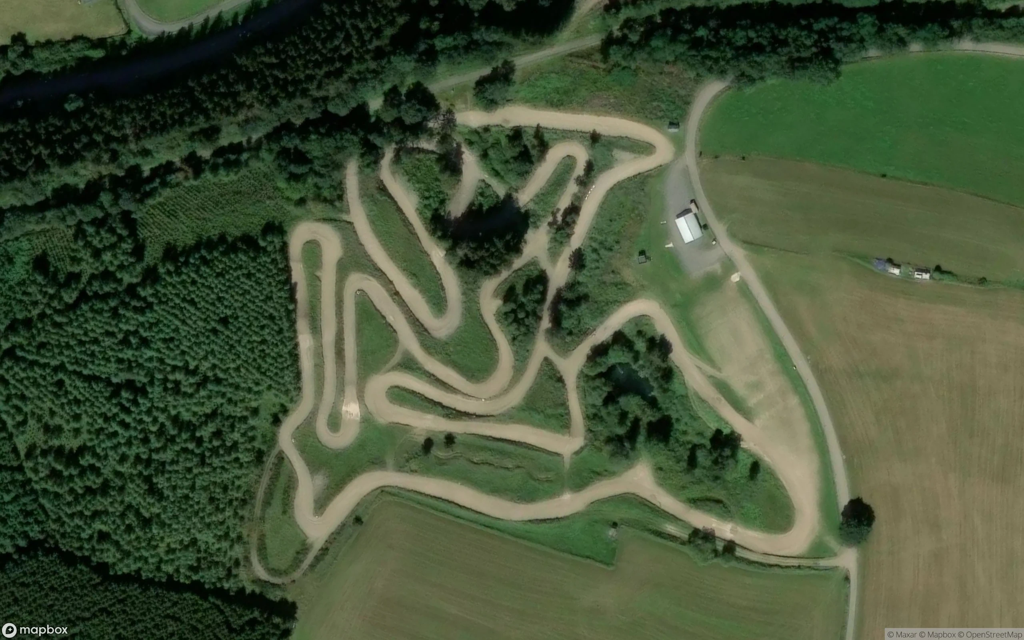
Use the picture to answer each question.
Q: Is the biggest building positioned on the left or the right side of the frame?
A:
right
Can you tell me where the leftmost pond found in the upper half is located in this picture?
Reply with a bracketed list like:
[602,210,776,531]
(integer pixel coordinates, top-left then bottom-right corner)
[455,201,523,244]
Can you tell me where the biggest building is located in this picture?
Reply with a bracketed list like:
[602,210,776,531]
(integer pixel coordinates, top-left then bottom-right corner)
[674,212,704,244]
